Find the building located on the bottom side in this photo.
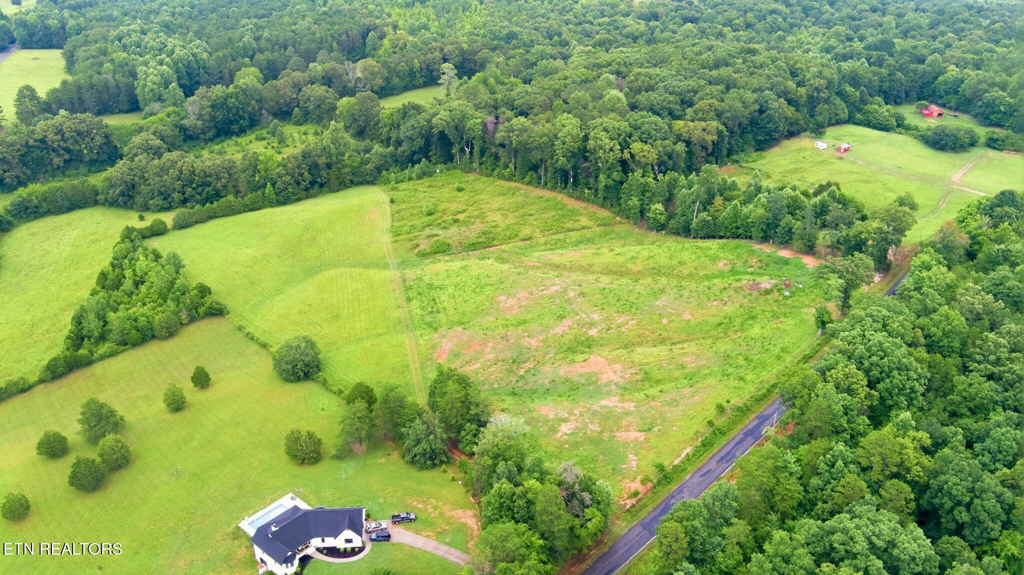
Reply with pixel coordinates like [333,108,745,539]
[250,507,368,575]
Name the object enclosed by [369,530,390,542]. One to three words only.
vehicle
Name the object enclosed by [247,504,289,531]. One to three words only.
swimming pool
